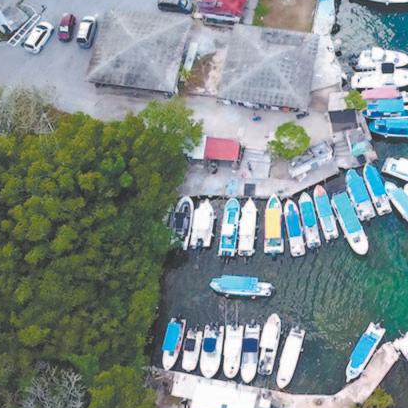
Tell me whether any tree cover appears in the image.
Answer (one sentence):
Yes, tree cover can be seen from above here.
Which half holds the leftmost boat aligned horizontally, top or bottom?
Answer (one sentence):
It is in the bottom half that the leftmost boat aligned horizontally appears.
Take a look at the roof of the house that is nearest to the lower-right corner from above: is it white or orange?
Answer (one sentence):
In this view, the roof of the house that is nearest to the lower-right corner is white.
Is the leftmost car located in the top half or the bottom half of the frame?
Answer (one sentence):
You can find the leftmost car in the top half.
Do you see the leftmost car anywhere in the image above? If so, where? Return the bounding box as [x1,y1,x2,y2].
[19,18,56,54]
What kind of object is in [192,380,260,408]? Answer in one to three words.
house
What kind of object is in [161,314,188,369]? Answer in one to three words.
boat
